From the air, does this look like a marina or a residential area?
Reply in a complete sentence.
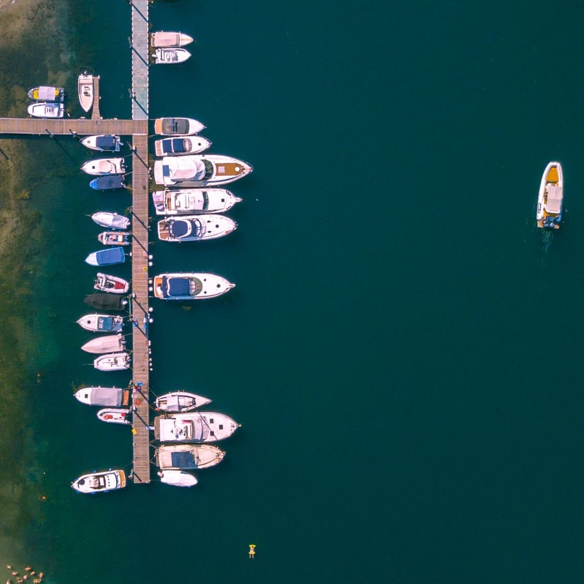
The area seen from above is a marina.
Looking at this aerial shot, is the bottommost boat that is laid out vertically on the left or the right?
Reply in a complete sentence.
It is on the right.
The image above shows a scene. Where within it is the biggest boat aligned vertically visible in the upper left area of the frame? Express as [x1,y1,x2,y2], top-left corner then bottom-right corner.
[78,71,93,115]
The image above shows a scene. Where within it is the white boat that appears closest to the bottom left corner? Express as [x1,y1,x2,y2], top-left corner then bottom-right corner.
[69,465,130,494]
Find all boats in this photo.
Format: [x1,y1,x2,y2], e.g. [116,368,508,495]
[150,135,214,155]
[69,465,130,494]
[151,444,227,469]
[76,313,129,332]
[85,213,132,231]
[85,247,126,266]
[79,157,127,176]
[536,162,564,228]
[99,230,131,245]
[149,153,254,189]
[152,469,199,486]
[89,173,130,191]
[97,408,129,423]
[150,390,212,412]
[77,135,123,152]
[150,215,240,243]
[150,30,193,47]
[152,48,192,64]
[27,102,67,118]
[153,409,243,442]
[80,333,131,354]
[84,293,127,309]
[72,384,132,405]
[149,188,243,215]
[84,351,132,370]
[27,86,65,101]
[151,271,239,301]
[152,117,207,136]
[78,71,93,115]
[91,274,130,292]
